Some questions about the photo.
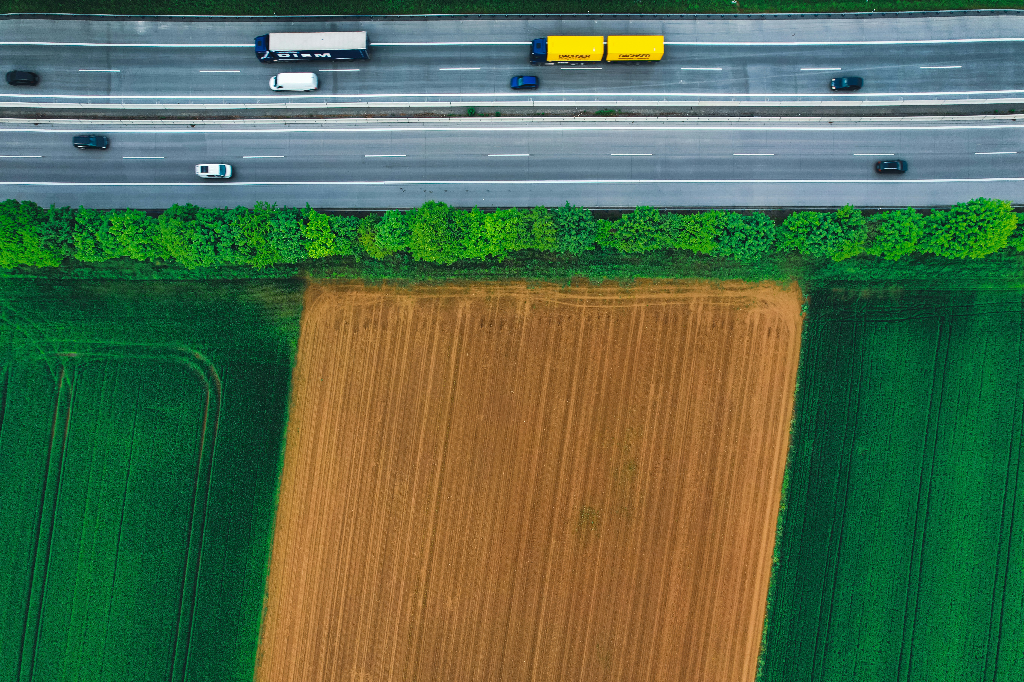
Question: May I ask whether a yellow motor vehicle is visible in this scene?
Yes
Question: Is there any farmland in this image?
Yes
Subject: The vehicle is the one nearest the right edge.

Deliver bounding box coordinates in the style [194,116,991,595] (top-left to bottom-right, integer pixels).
[875,159,907,175]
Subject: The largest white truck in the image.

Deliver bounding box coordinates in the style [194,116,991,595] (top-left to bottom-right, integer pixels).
[254,31,370,62]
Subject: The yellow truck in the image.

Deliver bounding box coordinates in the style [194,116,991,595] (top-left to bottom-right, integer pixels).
[529,36,663,65]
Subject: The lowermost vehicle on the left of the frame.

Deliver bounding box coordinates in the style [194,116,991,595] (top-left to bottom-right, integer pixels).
[196,163,233,179]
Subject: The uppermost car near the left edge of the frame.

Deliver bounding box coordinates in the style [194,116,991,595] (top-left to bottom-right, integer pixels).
[7,70,39,86]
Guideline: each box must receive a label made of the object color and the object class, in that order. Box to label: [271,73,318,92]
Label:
white vehicle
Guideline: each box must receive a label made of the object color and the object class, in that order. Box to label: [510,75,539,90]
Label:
blue car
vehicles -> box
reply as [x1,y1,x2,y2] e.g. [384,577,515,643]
[510,75,539,90]
[830,76,864,92]
[271,73,318,92]
[254,31,370,62]
[529,36,663,65]
[875,159,907,175]
[73,134,109,150]
[7,70,39,86]
[196,163,233,179]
